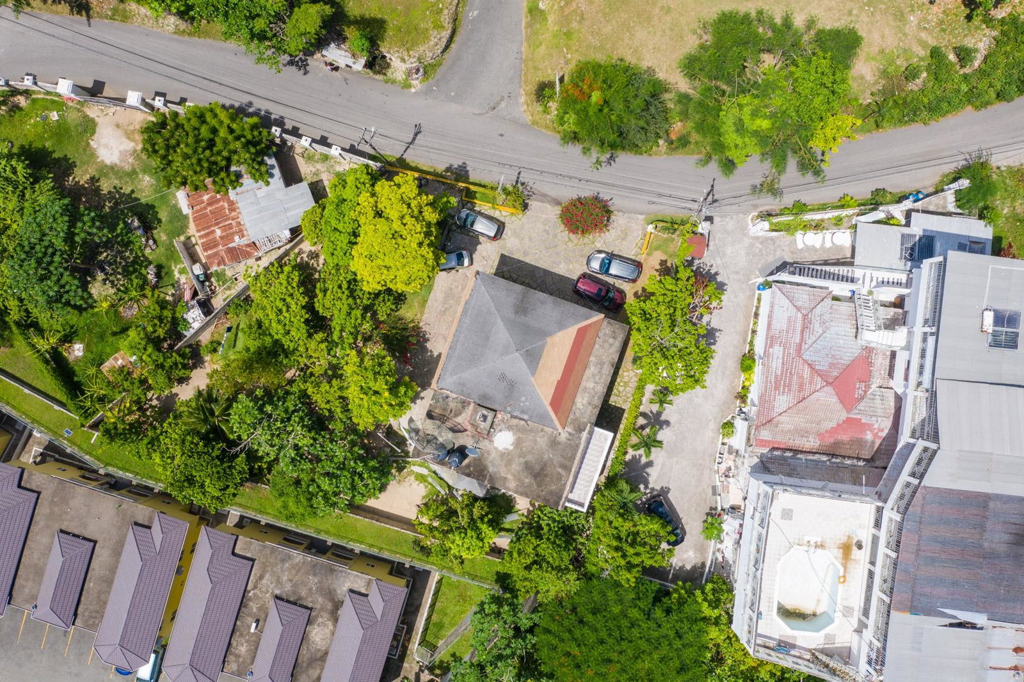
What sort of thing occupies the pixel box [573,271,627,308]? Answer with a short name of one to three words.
car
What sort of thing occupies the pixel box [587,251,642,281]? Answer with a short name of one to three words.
car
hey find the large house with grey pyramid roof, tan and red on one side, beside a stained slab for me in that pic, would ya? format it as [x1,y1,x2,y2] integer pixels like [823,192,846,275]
[392,273,628,511]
